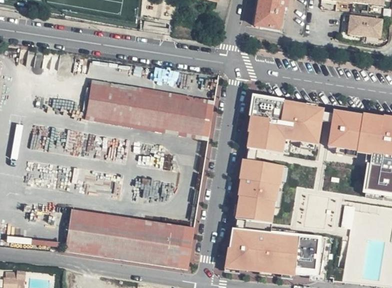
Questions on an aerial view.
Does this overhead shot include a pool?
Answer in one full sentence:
Yes, a pool is visible in the scene.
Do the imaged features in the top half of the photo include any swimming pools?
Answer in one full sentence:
No, no swimming pool appears in the top half of the photo.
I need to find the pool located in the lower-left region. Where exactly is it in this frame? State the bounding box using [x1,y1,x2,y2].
[24,272,56,288]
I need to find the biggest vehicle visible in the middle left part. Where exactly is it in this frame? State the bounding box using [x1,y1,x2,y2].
[9,122,21,164]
